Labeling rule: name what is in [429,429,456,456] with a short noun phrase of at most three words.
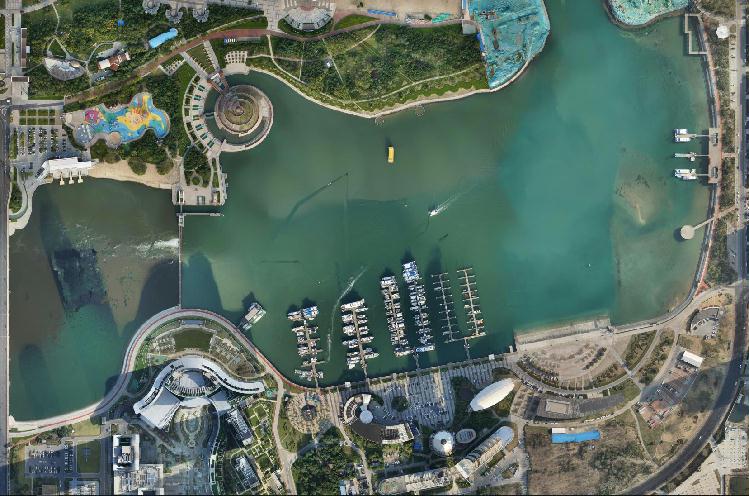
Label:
building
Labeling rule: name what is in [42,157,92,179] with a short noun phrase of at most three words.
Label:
building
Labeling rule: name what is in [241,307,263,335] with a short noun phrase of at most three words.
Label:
ship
